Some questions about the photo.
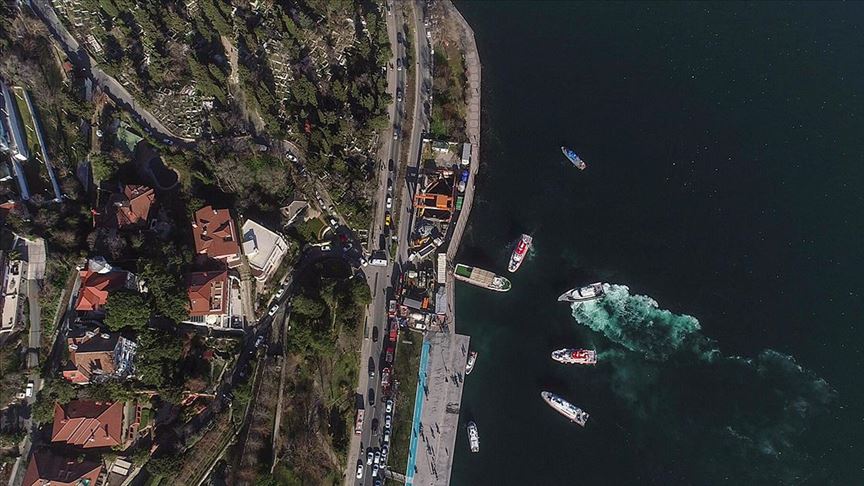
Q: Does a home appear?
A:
Yes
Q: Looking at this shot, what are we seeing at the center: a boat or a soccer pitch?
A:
boat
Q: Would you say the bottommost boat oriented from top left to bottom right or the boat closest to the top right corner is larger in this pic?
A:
the bottommost boat oriented from top left to bottom right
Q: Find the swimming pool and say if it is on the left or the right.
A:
left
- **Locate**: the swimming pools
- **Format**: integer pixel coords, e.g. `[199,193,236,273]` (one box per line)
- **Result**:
[148,155,184,192]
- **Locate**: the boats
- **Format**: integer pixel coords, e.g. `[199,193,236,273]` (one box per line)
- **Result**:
[559,283,607,300]
[562,146,587,170]
[467,352,478,375]
[510,234,532,272]
[467,423,480,453]
[543,394,590,425]
[553,349,597,364]
[456,263,512,290]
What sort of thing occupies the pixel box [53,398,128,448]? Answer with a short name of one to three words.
house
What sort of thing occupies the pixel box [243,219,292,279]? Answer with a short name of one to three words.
house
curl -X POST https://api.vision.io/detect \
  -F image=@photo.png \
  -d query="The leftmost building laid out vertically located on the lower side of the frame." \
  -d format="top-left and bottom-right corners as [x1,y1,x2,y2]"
[0,260,33,332]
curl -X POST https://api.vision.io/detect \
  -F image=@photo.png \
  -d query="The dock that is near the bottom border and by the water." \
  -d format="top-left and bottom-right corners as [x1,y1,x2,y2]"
[405,334,471,486]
